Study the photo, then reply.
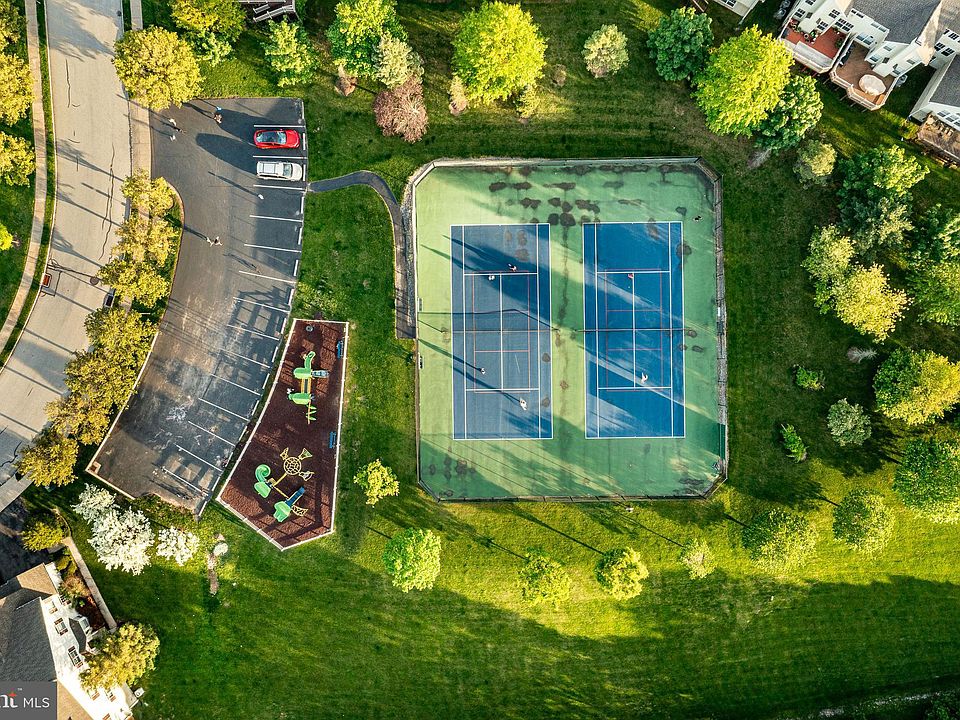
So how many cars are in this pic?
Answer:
2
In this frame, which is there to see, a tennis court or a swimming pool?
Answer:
tennis court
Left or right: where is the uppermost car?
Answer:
left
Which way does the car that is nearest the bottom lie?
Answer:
from left to right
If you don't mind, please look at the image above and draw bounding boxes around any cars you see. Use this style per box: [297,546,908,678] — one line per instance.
[256,160,304,183]
[255,128,300,149]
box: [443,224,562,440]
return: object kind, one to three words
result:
tennis court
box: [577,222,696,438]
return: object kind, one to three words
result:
tennis court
